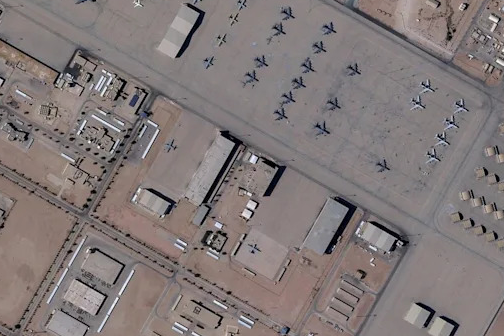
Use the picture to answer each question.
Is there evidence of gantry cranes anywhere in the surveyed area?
No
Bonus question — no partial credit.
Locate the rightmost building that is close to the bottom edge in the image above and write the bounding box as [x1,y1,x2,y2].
[429,315,455,336]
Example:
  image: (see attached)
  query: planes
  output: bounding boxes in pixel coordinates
[272,22,285,34]
[229,13,238,25]
[216,34,226,46]
[301,57,313,69]
[311,39,324,52]
[132,0,143,8]
[274,106,287,118]
[420,80,433,92]
[253,53,266,66]
[280,6,293,18]
[435,132,448,145]
[321,21,334,34]
[375,159,388,172]
[409,96,422,108]
[281,90,293,102]
[453,99,467,112]
[346,62,359,74]
[249,244,260,253]
[443,115,456,128]
[165,140,174,152]
[244,69,257,82]
[203,55,213,68]
[326,97,339,109]
[425,149,438,161]
[314,121,327,134]
[290,75,304,88]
